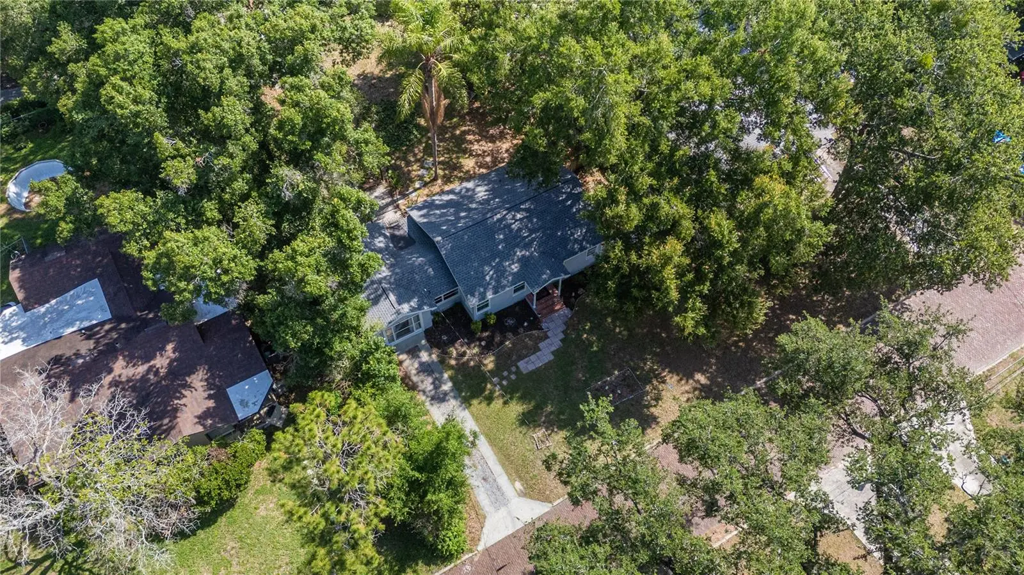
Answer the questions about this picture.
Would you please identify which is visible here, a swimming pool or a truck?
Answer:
swimming pool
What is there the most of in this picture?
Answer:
trees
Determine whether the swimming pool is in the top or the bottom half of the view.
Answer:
top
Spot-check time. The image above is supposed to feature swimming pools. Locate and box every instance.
[3,157,70,209]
